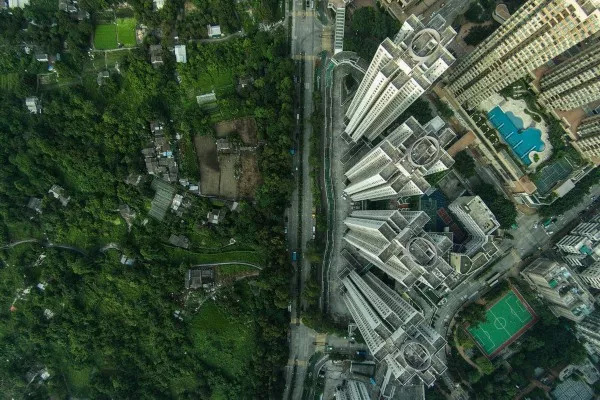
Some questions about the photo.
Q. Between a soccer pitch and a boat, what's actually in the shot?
soccer pitch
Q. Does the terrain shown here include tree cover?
Yes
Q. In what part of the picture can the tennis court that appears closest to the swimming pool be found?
right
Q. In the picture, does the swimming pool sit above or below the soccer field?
above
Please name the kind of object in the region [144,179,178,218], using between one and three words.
house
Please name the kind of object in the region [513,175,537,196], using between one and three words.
building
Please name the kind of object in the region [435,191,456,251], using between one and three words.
basketball court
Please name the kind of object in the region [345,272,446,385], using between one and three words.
building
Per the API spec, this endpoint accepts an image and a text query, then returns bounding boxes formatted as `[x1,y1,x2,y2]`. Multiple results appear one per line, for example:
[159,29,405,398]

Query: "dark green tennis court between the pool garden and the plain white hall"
[534,159,577,194]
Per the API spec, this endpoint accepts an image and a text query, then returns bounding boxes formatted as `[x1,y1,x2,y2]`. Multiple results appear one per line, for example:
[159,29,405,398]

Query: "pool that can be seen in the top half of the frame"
[485,97,553,173]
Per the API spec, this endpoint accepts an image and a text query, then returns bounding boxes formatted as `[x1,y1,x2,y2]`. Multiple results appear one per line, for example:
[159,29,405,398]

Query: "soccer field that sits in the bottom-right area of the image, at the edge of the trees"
[467,289,540,359]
